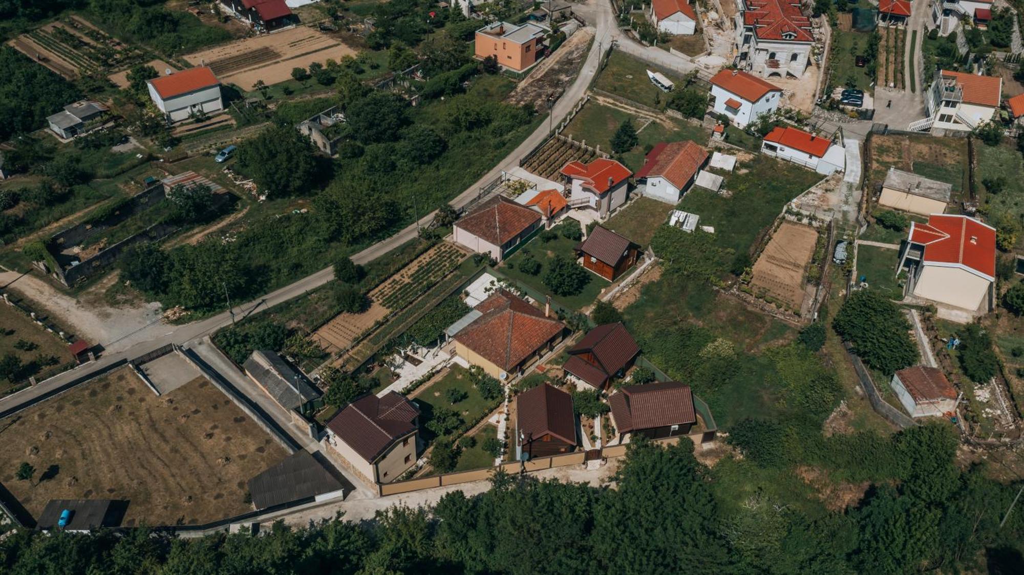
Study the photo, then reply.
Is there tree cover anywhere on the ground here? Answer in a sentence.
Yes, there's tree cover in this view.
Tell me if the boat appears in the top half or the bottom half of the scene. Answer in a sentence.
The boat sits in the top half of the picture.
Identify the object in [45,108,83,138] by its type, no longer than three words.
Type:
shed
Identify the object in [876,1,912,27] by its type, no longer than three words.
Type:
building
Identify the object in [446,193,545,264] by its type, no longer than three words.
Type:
house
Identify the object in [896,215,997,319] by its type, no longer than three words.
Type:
house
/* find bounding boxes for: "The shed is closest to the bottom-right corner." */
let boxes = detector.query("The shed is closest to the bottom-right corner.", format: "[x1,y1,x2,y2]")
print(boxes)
[893,366,961,414]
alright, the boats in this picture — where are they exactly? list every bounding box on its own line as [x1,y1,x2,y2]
[644,65,676,87]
